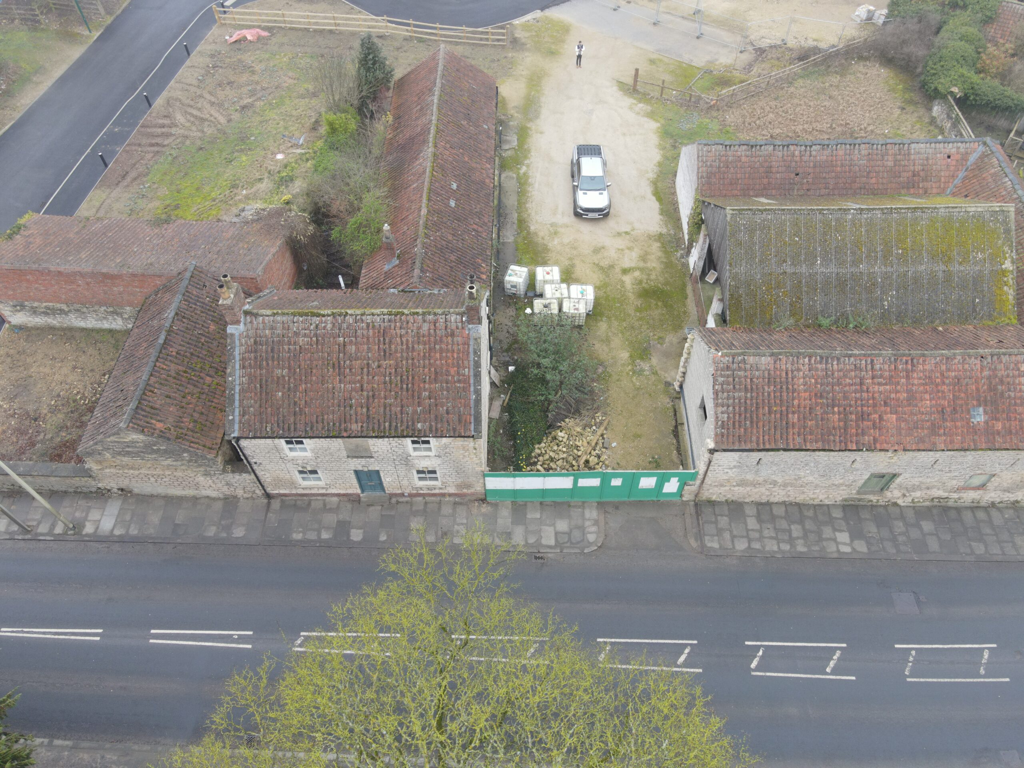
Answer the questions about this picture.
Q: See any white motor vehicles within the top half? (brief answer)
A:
Yes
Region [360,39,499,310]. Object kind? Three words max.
shed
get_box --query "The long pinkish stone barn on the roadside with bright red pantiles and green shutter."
[674,325,1024,504]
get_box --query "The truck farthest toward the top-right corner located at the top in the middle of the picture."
[571,144,613,219]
